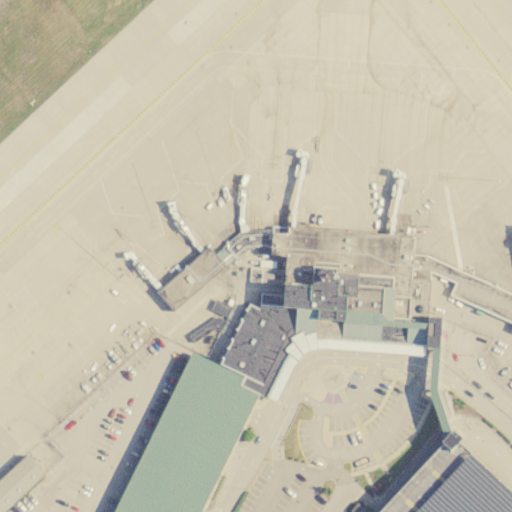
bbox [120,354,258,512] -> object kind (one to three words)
building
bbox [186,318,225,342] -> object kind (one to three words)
shed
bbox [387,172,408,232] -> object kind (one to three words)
jet bridge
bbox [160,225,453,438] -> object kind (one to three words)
building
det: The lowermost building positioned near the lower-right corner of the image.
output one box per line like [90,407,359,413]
[376,446,512,512]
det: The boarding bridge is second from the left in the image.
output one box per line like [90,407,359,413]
[164,202,206,252]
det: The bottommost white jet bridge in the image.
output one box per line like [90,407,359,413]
[126,253,163,290]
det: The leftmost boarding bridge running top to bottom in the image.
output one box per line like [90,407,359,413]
[238,172,250,232]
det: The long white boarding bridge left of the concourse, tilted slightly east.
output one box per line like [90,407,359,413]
[290,150,310,227]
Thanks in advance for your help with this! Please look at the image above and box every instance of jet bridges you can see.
[387,172,408,232]
[126,253,163,290]
[238,172,250,232]
[290,150,310,227]
[164,202,206,252]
